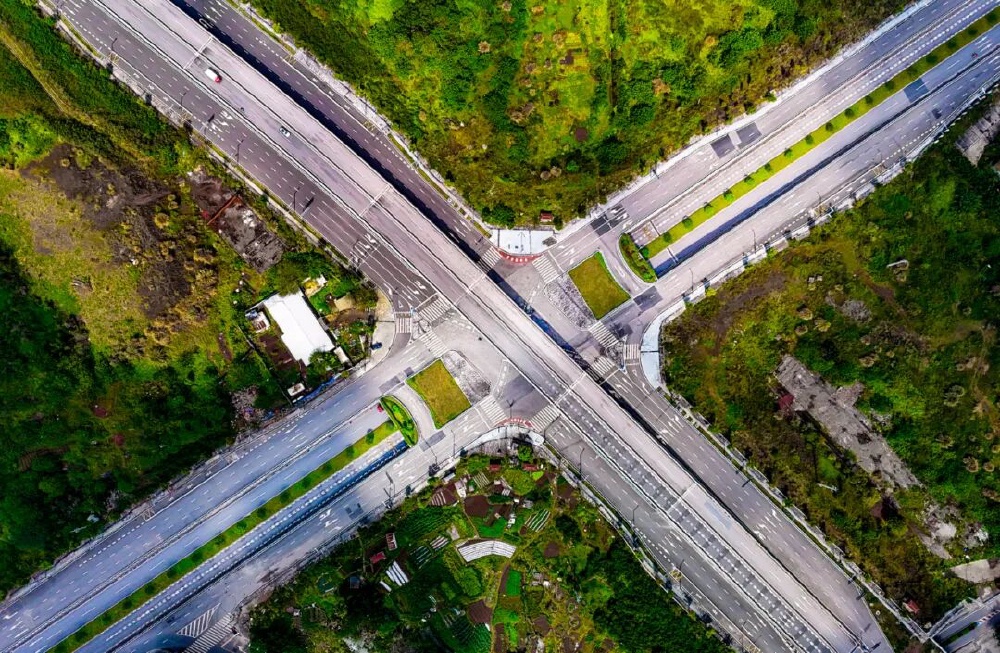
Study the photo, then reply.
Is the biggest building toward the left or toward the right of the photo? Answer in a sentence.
It is on the left.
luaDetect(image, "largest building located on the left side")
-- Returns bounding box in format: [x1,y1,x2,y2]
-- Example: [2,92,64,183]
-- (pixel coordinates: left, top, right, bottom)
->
[268,288,335,364]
